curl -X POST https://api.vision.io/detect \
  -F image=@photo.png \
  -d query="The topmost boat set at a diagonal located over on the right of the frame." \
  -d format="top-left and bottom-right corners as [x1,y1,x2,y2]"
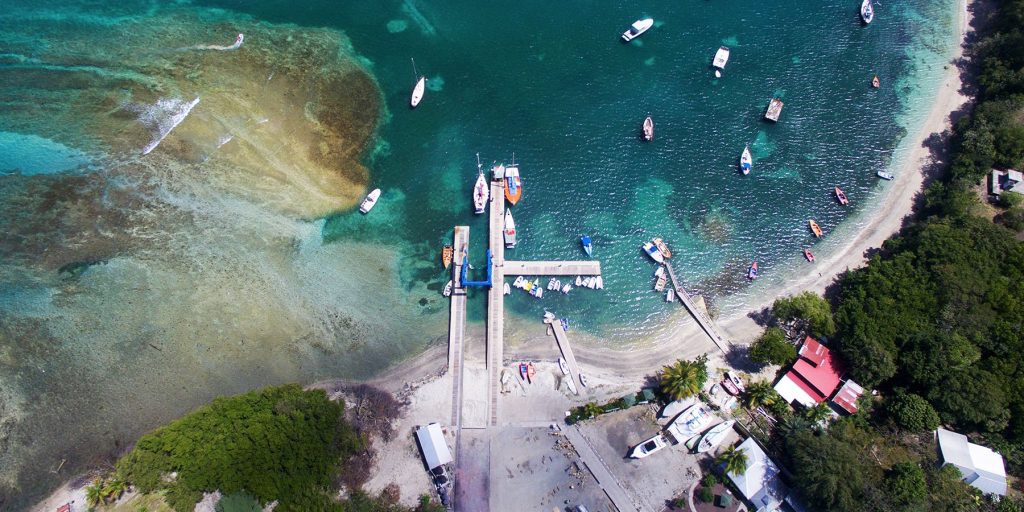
[620,19,653,43]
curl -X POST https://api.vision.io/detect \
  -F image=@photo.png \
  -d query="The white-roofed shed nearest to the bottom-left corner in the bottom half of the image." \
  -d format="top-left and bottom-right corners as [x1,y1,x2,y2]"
[417,423,453,471]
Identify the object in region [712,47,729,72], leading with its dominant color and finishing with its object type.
white boat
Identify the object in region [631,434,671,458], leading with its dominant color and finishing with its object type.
white boat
